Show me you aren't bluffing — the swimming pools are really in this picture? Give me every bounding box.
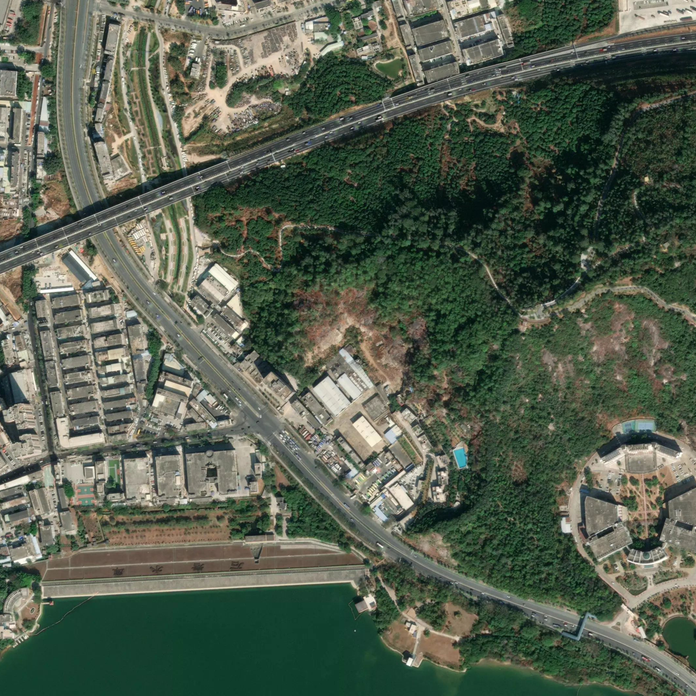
[453,447,468,469]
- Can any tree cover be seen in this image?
Yes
